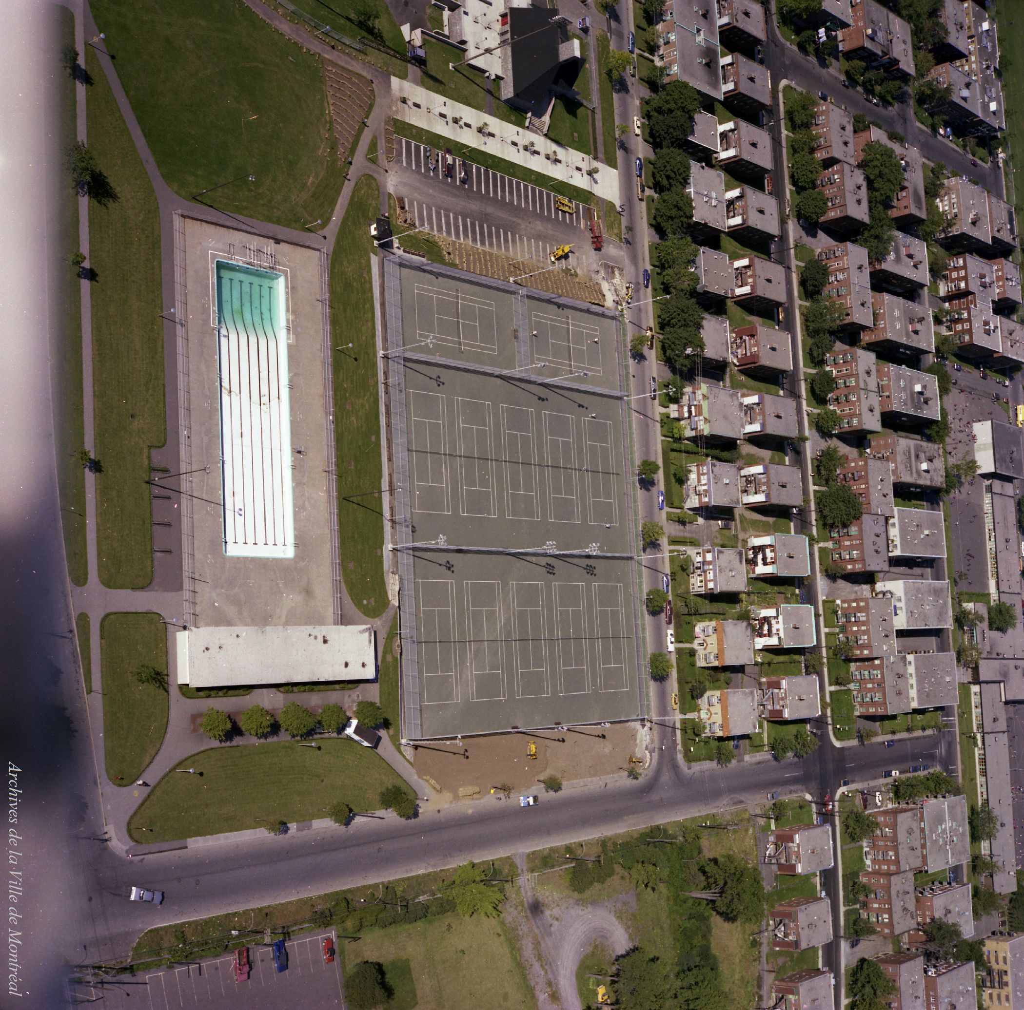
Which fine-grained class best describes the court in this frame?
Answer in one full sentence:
From above, the court can be identified as a tennis court.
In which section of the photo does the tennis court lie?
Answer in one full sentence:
The tennis court is in the center part of the image.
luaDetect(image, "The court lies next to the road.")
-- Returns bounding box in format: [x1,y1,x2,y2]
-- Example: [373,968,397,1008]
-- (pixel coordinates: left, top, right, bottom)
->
[385,259,641,739]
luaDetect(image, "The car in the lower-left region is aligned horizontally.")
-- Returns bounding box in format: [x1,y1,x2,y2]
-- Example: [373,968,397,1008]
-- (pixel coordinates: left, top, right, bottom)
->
[131,888,165,905]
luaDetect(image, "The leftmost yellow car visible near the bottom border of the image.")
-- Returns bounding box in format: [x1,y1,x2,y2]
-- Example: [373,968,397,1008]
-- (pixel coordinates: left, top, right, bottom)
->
[596,984,610,1005]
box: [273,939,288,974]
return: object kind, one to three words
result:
car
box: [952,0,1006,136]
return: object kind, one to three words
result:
building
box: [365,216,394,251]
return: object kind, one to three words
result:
shed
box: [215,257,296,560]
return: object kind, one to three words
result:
swimming pool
